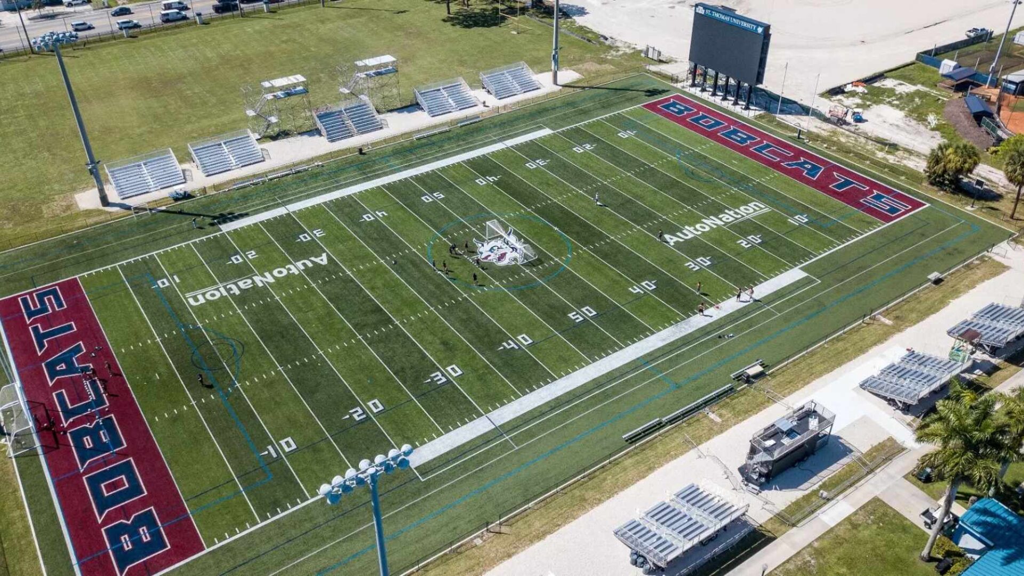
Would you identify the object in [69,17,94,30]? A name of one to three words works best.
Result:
vehicle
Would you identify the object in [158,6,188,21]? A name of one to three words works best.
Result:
vehicle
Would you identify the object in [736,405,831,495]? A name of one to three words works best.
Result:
trailer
